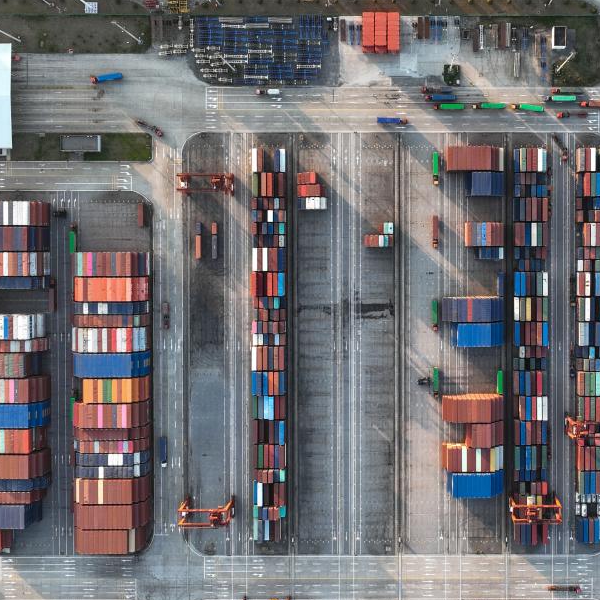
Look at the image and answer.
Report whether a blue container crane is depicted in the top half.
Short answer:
No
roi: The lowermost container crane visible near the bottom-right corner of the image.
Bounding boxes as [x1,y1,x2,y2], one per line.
[506,492,564,524]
